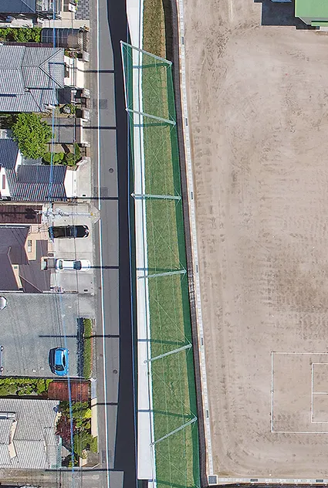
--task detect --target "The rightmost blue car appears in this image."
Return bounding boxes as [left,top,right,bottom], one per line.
[49,348,66,376]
